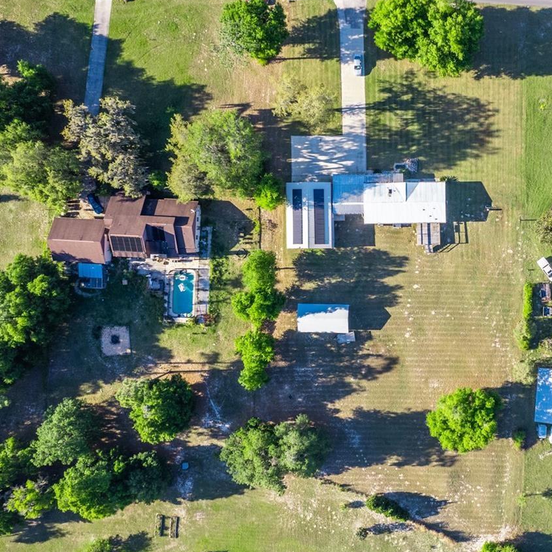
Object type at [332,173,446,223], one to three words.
house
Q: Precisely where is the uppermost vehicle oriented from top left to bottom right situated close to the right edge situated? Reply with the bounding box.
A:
[536,256,552,282]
